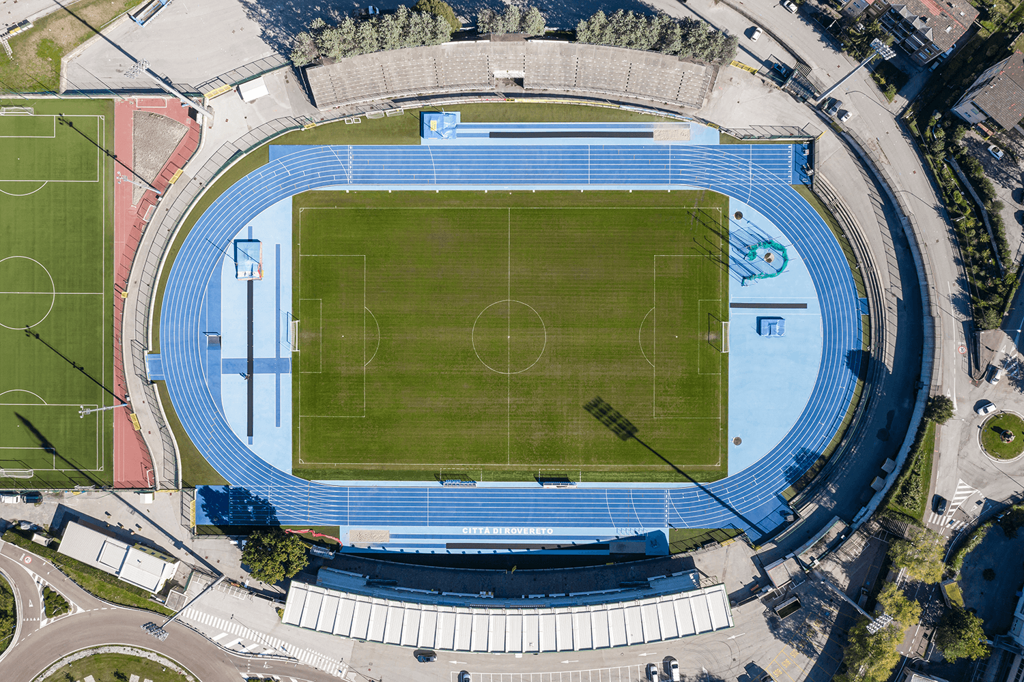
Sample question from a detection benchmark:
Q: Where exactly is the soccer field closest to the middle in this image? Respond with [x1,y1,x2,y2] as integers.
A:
[292,190,729,482]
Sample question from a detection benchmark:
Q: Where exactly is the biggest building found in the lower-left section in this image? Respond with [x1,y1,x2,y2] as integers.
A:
[58,513,187,594]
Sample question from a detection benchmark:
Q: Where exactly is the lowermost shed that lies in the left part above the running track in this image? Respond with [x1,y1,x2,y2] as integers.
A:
[240,77,271,104]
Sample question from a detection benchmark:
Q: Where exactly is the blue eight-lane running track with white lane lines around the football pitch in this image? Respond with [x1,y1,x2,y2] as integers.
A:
[147,144,869,544]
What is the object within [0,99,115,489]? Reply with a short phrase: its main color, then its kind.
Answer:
green soccer field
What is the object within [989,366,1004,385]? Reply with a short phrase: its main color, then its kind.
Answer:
white car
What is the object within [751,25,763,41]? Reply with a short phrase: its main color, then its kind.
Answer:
white vehicle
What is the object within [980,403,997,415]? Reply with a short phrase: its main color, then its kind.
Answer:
white vehicle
